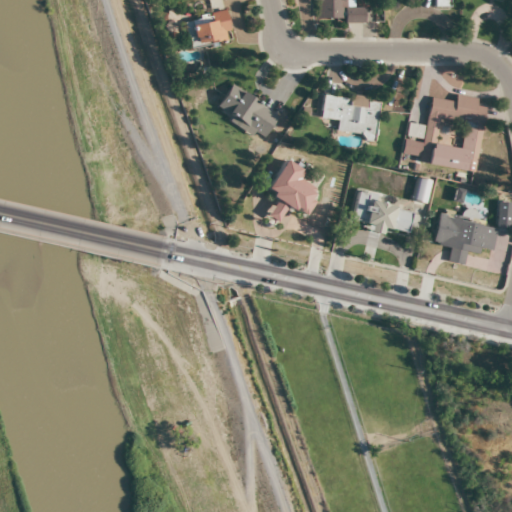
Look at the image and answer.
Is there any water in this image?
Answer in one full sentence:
Yes, the picture does contain water.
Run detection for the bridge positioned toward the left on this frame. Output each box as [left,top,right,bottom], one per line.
[0,199,171,273]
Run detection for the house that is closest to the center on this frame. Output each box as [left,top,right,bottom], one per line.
[268,160,320,221]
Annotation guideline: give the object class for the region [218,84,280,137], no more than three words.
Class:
house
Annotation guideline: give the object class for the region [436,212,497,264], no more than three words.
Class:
house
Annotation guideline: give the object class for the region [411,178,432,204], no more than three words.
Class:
shed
